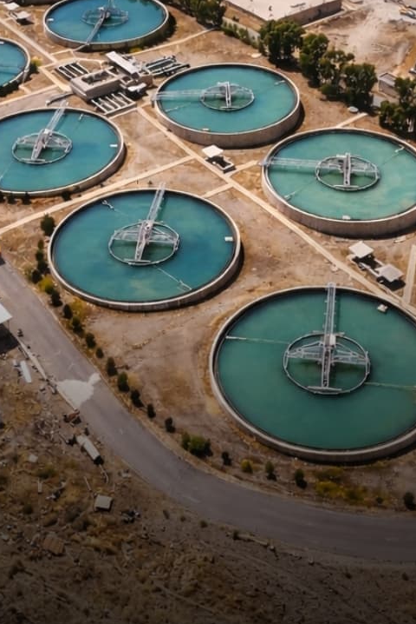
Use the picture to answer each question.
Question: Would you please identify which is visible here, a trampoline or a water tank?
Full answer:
Of the two, only a water tank appears.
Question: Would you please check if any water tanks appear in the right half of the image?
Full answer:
Yes, looking in the right half of the image, one can make out a water tank.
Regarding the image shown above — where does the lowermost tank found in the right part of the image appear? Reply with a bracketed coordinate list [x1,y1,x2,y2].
[211,277,416,467]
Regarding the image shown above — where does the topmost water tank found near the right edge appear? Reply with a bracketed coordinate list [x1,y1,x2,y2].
[257,128,416,237]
